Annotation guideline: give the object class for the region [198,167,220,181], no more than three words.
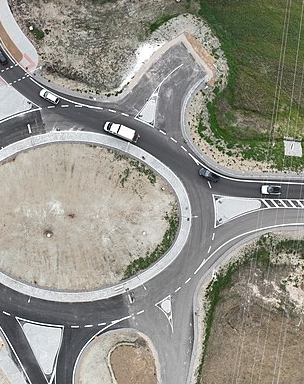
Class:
car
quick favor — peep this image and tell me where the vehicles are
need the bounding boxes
[0,49,7,66]
[39,89,60,105]
[105,121,138,142]
[198,167,220,181]
[260,185,282,194]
